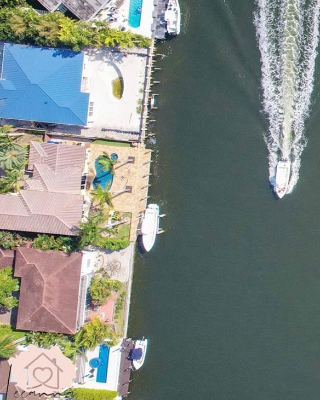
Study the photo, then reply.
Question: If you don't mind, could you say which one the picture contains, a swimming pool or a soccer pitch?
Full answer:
I can see a swimming pool in this picture.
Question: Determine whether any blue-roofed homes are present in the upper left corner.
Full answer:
Yes, a blue-roofed home is visible in the upper left corner.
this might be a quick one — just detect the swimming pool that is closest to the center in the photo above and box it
[92,152,118,192]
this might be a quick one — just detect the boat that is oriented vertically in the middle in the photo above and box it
[140,204,159,252]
